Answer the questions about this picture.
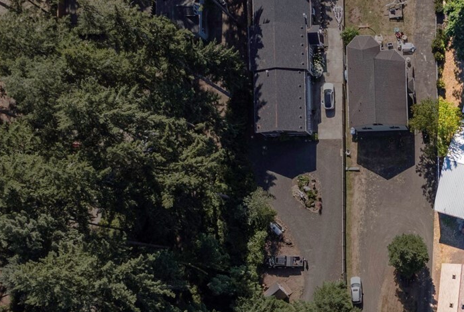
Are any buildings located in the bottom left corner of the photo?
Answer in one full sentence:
No, no building is visible in the bottom left corner of the photo.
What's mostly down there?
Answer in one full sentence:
For the most part, this view shows trees.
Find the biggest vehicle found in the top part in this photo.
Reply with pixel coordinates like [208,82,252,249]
[322,83,335,110]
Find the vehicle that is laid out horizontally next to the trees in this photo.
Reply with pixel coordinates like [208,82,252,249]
[269,255,306,269]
